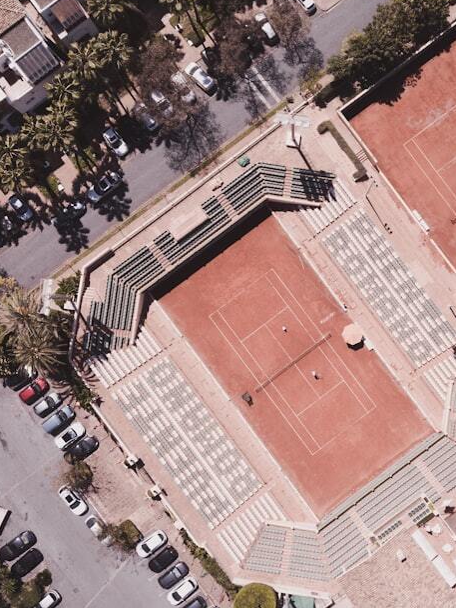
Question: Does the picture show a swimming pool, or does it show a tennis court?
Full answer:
The image shows a tennis court.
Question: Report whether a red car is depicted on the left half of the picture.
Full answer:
Yes, on the left half of the picture there is a red car.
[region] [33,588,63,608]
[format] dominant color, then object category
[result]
white car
